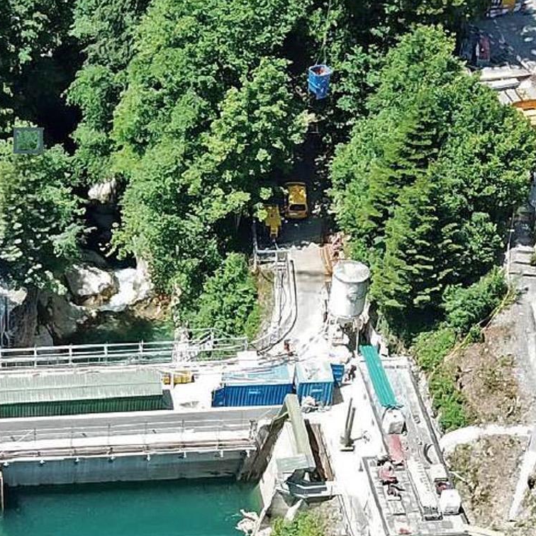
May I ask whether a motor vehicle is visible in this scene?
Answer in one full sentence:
Yes, there's a motor vehicle down there.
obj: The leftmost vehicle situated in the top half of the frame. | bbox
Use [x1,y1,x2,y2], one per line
[282,178,308,216]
